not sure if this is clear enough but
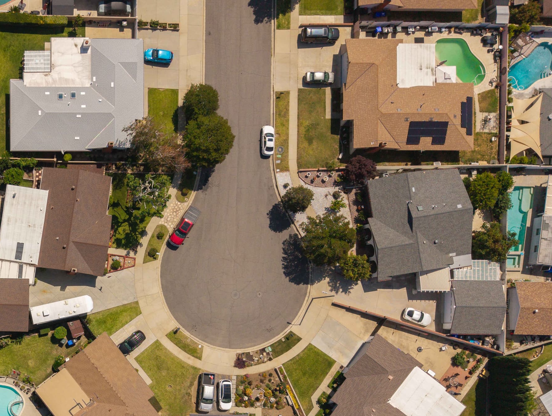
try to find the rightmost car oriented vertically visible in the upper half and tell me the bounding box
[260,125,275,157]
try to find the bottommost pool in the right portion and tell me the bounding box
[506,253,524,269]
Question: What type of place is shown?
residential area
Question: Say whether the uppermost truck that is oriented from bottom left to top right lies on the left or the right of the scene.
left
